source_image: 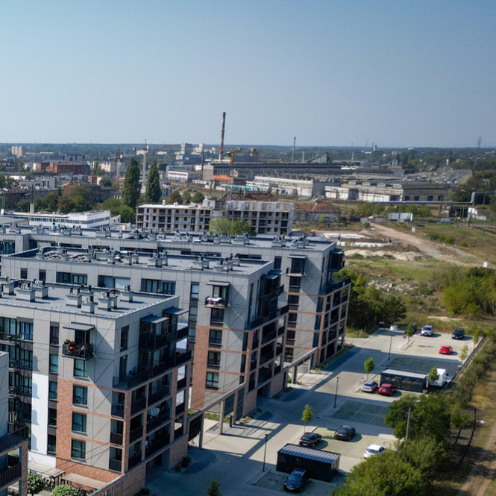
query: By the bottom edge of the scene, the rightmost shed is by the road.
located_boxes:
[276,442,340,483]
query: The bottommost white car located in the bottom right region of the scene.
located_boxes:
[360,442,384,460]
